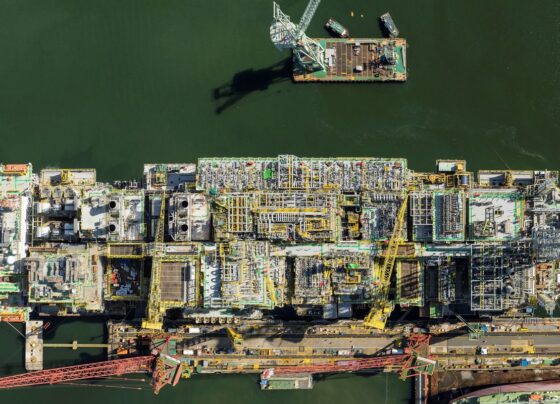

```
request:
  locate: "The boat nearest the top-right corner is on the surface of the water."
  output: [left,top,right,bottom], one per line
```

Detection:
[380,13,399,40]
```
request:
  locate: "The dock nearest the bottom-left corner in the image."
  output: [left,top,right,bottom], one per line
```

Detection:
[23,317,49,370]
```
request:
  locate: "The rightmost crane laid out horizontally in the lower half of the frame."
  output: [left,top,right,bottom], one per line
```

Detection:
[261,332,441,380]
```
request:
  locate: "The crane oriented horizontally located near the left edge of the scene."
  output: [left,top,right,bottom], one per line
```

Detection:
[0,336,188,396]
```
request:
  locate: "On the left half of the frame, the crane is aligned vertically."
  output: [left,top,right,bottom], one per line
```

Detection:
[141,190,170,329]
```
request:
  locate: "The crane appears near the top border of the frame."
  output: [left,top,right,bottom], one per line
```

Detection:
[273,0,407,84]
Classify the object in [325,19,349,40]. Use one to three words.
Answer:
boat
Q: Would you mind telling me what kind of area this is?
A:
port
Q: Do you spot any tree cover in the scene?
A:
No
